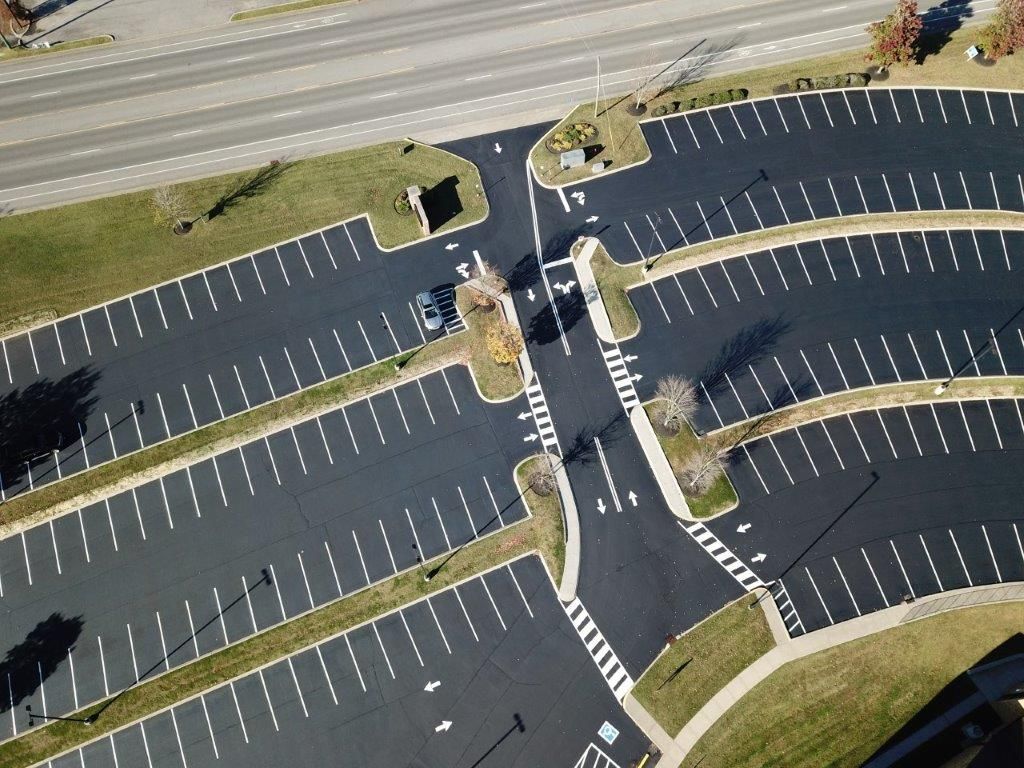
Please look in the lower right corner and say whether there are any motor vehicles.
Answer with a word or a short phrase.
No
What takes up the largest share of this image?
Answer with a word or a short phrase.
paved ground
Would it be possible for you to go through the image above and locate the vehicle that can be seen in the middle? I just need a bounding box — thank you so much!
[415,290,445,334]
